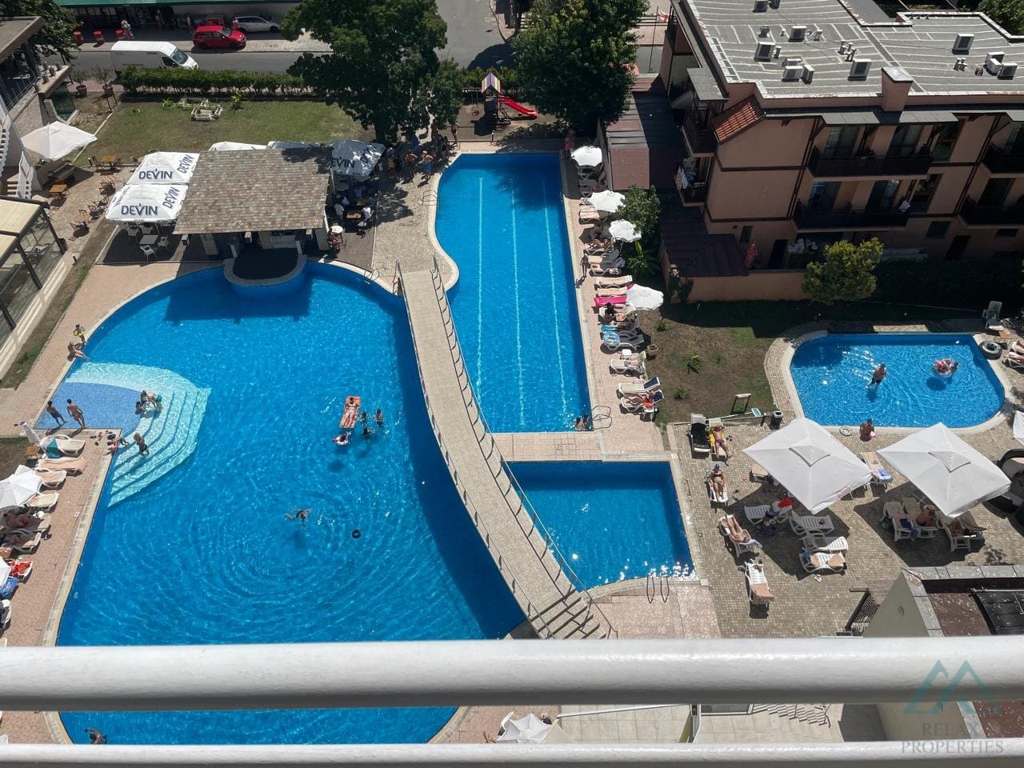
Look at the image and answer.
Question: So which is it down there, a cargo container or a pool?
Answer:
pool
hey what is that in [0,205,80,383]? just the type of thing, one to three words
building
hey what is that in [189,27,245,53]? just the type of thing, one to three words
car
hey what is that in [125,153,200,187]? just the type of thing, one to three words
umbrella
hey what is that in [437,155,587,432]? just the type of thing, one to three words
swimming pool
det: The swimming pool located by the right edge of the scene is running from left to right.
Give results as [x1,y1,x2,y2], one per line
[791,335,1004,426]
